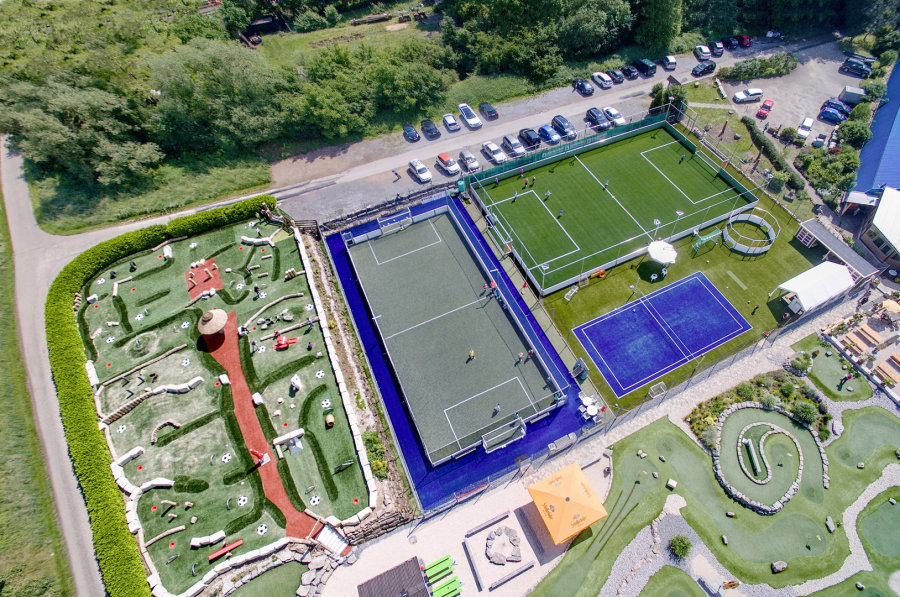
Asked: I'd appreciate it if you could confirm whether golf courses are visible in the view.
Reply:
Yes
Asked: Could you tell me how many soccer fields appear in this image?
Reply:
2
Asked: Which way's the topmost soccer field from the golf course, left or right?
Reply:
to the right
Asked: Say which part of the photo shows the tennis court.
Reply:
right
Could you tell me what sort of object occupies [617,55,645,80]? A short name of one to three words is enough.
car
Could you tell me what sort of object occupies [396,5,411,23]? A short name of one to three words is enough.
work vehicle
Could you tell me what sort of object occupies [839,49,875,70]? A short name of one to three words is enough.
car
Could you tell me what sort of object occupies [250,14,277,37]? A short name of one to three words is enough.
shed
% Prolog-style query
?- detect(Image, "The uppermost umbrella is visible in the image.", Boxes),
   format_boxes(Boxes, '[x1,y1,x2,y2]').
[642,238,682,270]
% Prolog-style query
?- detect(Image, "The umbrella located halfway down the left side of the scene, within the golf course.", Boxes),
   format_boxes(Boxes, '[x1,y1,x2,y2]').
[199,310,230,337]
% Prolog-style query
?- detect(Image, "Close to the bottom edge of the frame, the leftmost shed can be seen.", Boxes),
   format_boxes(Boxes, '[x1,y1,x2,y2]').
[358,557,431,597]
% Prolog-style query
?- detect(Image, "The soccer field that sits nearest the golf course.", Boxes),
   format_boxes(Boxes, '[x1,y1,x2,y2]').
[325,192,579,516]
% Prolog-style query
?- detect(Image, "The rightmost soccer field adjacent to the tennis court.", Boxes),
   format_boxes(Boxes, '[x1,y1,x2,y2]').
[476,105,771,295]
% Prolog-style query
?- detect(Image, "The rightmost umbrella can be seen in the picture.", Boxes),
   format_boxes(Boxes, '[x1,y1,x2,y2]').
[877,300,900,321]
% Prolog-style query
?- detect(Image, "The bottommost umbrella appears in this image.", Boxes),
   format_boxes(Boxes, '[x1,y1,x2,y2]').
[528,462,607,545]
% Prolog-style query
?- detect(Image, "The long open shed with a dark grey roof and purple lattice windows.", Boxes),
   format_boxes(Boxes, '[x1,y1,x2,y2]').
[792,218,880,290]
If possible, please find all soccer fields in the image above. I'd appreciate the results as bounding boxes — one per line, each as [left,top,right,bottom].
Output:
[325,192,579,516]
[476,105,771,295]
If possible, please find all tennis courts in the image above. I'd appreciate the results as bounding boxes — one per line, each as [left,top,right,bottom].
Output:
[572,271,753,398]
